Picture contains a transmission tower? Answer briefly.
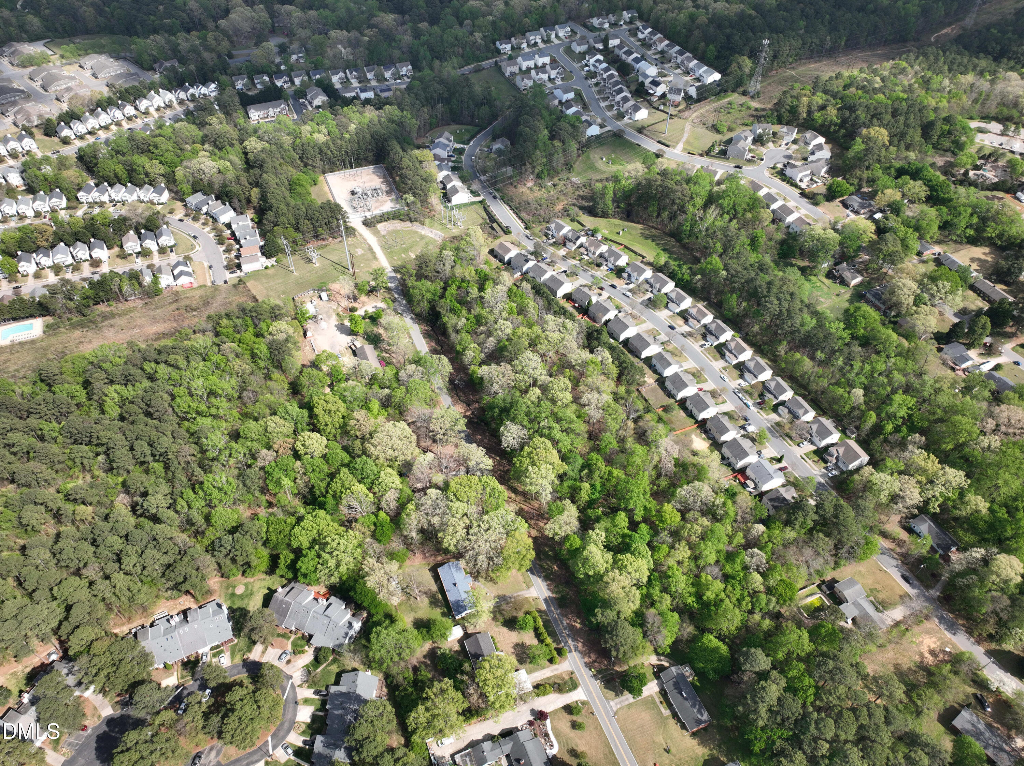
Yes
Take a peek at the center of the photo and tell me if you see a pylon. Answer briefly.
No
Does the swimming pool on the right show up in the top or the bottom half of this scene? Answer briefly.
bottom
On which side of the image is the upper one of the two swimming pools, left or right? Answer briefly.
left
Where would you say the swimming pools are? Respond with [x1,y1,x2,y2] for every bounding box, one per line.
[798,594,832,617]
[0,318,43,345]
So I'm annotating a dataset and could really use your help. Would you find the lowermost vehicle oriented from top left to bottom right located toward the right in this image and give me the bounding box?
[973,693,994,713]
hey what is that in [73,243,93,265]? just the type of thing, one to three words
house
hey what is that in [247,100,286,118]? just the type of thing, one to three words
house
